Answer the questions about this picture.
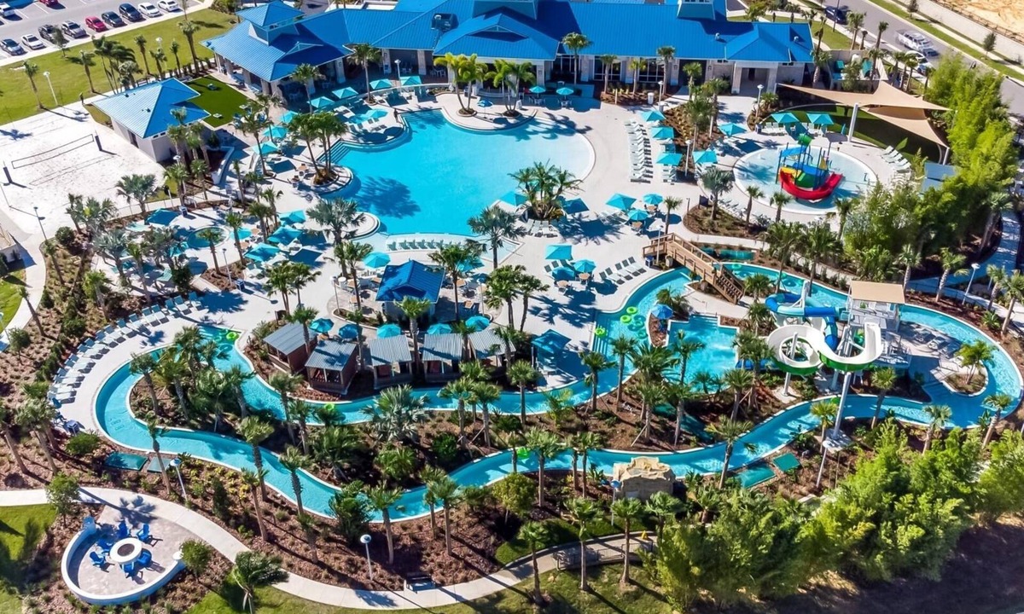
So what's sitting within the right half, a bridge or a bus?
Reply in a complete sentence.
The feature located within the right half is a bridge.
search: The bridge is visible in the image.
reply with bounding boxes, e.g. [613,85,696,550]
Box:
[642,232,746,304]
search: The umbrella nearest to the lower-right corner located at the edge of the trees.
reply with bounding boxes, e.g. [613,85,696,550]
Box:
[645,307,677,340]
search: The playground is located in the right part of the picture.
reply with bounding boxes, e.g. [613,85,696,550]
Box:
[775,128,844,199]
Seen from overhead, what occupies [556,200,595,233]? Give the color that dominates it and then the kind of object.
blue umbrella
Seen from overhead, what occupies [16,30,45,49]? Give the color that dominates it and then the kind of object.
white car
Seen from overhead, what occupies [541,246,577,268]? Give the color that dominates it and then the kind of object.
blue umbrella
